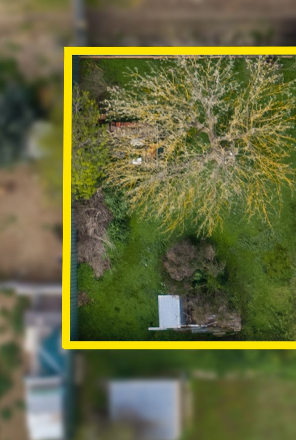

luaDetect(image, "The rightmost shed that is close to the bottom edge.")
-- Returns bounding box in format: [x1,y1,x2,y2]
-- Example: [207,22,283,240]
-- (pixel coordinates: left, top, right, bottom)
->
[109,378,187,440]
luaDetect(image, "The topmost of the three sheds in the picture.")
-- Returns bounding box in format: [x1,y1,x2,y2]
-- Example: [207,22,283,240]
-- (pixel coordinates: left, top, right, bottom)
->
[158,296,187,329]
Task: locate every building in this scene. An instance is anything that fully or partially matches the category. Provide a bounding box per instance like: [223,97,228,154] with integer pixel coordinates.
[25,378,67,440]
[158,296,187,329]
[109,378,187,440]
